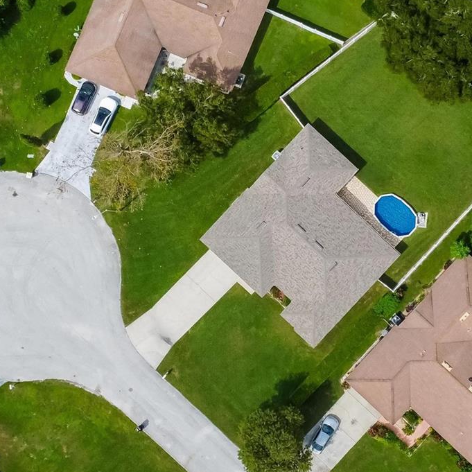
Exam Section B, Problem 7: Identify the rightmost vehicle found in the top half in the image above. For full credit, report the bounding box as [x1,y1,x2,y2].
[91,95,118,136]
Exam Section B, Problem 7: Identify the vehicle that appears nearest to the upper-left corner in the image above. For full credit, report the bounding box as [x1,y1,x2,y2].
[71,79,99,118]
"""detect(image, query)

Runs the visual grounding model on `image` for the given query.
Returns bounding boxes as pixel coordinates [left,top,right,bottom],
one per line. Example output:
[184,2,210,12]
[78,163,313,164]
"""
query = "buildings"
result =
[346,254,472,463]
[65,0,270,99]
[199,123,401,348]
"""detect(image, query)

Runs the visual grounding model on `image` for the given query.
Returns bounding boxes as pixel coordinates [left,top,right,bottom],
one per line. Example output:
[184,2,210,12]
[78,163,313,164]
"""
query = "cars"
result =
[312,414,339,455]
[71,79,99,118]
[91,95,118,136]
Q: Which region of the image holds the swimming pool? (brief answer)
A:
right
